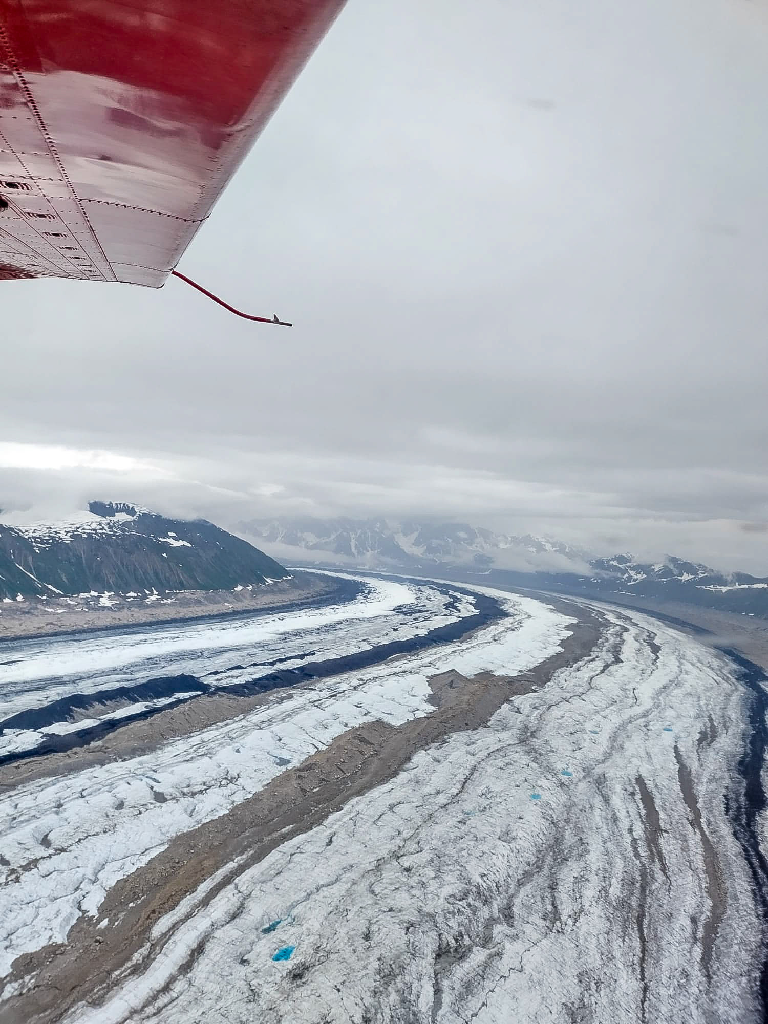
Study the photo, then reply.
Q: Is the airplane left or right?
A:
left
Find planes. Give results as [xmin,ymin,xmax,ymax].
[0,0,349,326]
